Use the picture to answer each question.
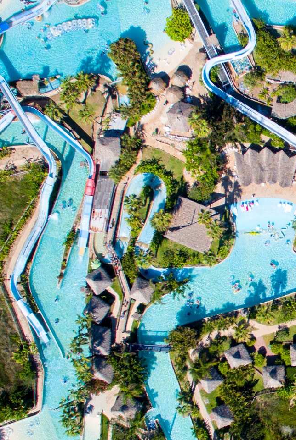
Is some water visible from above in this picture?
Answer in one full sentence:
Yes, water shows up in the scene.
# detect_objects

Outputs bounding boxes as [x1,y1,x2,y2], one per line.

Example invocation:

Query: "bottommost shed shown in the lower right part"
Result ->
[209,402,237,429]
